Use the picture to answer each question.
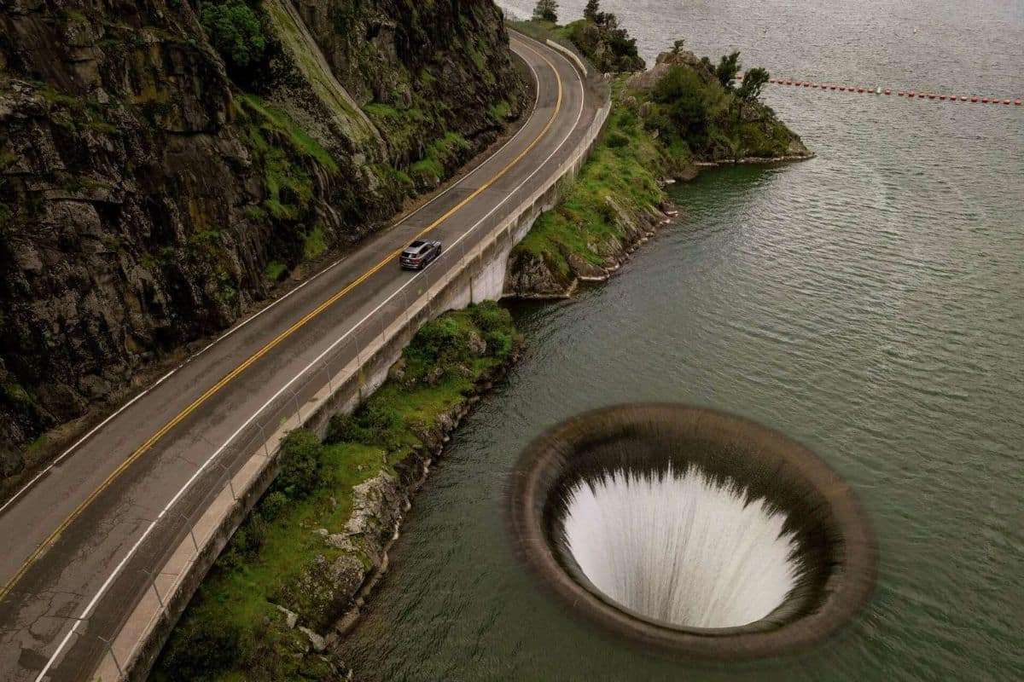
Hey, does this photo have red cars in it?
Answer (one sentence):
No, there isn't any red car down there.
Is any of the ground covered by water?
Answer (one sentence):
Yes, there is water in the image.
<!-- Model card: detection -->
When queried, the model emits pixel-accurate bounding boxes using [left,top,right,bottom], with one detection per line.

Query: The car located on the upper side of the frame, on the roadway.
[398,242,443,272]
